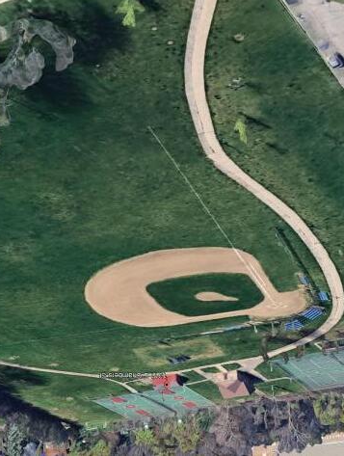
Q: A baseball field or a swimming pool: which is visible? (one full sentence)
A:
There is a baseball field in the scene.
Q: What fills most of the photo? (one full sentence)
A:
What you mostly see from above here is grass.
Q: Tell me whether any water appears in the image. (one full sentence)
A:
No, water can't be seen anywhere here.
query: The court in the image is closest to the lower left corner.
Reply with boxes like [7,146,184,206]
[96,394,177,423]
